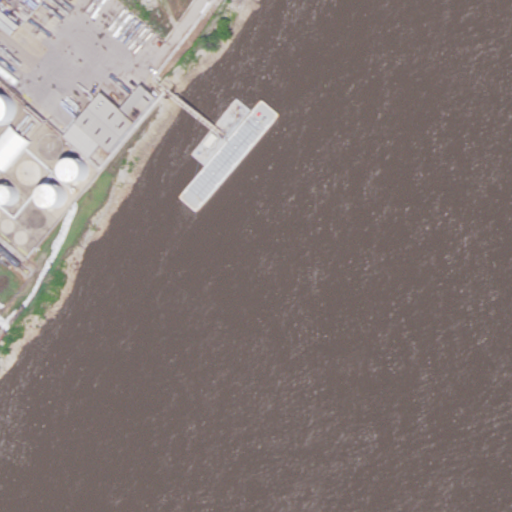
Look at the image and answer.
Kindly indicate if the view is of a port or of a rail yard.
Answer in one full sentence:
What you see here is a port.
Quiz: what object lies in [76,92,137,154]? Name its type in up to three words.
building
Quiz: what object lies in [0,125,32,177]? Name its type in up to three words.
building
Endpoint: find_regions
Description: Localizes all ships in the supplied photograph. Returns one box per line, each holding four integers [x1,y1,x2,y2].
[192,98,252,167]
[180,100,279,213]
